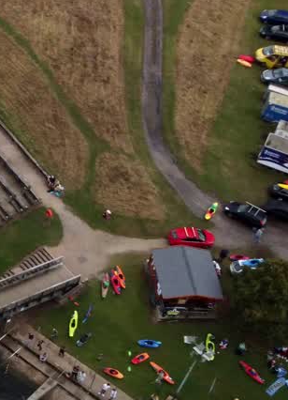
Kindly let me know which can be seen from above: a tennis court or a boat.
boat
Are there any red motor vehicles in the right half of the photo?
Yes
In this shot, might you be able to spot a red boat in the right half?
Yes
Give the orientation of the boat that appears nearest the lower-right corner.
on a diagonal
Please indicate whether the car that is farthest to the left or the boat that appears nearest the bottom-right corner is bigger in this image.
the car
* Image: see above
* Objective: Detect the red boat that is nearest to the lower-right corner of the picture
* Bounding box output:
[238,360,265,385]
